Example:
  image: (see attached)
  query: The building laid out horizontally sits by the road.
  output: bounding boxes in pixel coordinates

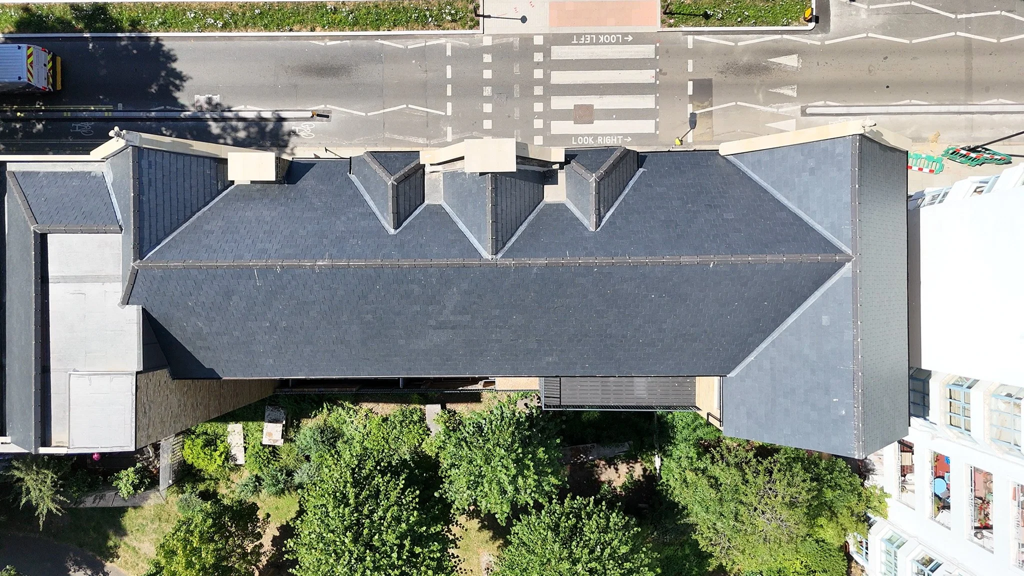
[0,118,918,458]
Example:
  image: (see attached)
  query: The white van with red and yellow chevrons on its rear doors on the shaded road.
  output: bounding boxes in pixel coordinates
[0,44,61,99]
